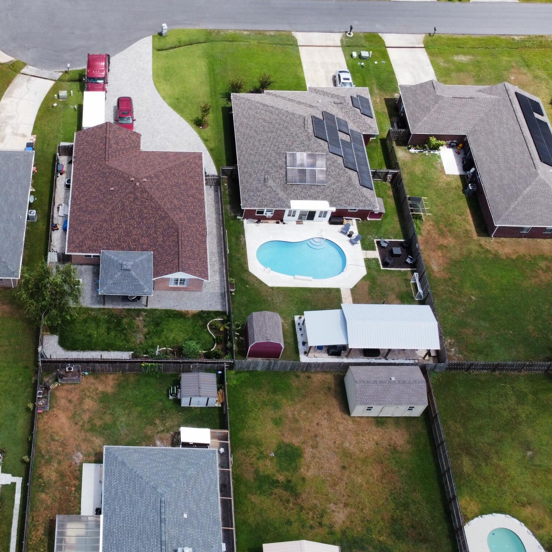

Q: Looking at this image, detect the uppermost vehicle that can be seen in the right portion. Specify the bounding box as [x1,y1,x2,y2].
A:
[334,68,355,87]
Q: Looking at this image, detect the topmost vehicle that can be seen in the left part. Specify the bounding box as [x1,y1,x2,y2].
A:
[82,48,110,107]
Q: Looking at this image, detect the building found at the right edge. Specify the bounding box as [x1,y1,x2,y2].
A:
[398,79,552,240]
